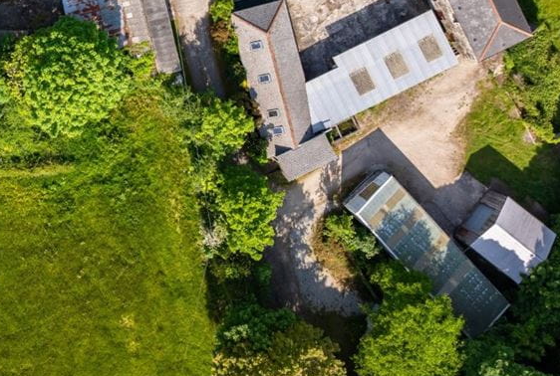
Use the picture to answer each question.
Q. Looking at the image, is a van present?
No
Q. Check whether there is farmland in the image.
Yes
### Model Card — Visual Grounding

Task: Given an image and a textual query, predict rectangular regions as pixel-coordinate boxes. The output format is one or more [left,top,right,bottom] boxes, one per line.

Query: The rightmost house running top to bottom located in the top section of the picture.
[230,0,314,159]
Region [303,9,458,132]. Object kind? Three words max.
shed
